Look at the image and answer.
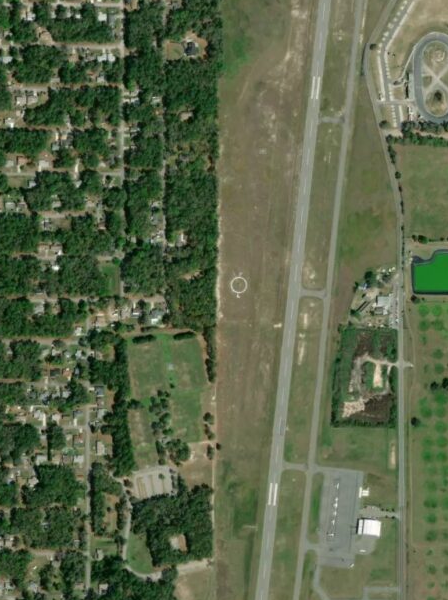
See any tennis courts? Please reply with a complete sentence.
No, this view has no tennis court in it.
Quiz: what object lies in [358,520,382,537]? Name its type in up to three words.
hangar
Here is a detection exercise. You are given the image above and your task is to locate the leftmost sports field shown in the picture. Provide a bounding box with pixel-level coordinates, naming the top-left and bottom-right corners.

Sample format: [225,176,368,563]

[129,336,165,398]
